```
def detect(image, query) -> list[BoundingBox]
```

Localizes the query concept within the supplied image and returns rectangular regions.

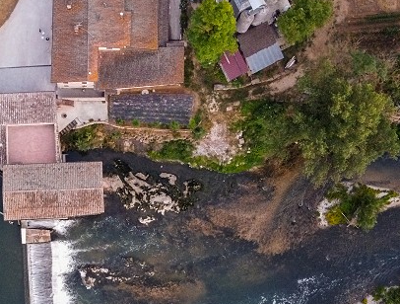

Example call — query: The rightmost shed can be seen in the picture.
[236,23,284,77]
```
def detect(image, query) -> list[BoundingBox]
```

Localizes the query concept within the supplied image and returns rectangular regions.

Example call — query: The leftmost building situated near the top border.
[51,0,185,93]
